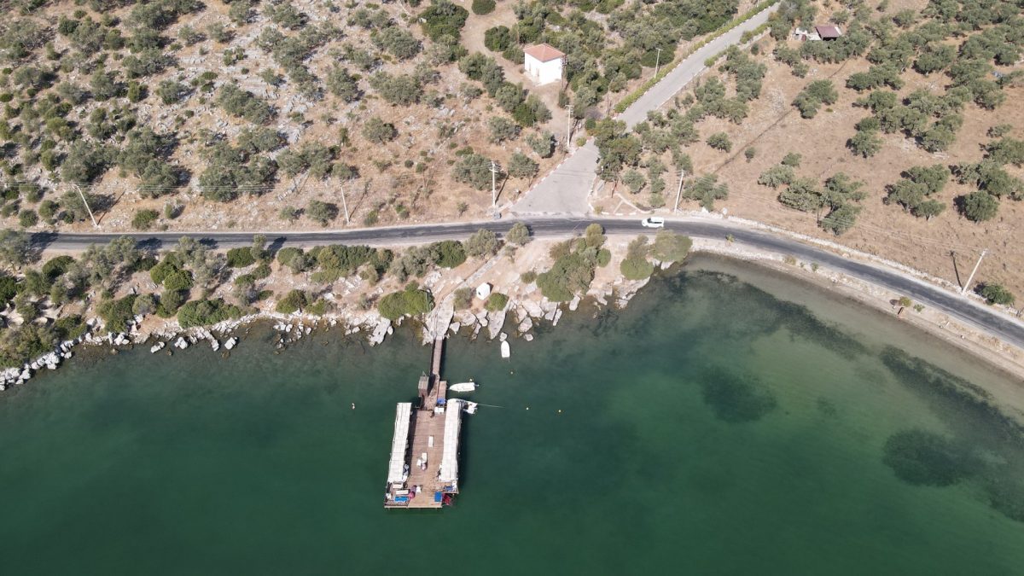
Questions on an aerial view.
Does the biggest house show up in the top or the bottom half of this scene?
top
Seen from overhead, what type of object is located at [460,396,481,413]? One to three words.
boat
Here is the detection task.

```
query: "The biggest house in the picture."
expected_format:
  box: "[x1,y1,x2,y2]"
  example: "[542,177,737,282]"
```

[518,45,564,88]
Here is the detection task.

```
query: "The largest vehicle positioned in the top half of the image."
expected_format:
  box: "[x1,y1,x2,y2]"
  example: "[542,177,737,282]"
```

[642,215,664,227]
